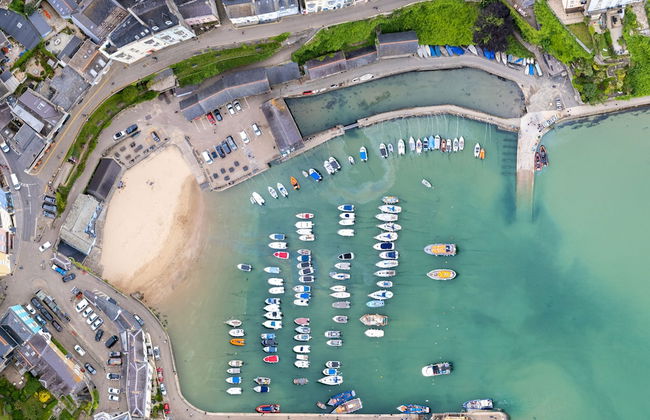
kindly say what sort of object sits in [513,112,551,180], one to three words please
pier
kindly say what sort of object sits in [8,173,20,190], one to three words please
vehicle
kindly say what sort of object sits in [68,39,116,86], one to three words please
house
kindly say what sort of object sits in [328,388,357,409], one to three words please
boat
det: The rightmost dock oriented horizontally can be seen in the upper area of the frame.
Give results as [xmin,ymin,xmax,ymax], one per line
[358,103,519,134]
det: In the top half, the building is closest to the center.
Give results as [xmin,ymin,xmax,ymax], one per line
[262,98,305,155]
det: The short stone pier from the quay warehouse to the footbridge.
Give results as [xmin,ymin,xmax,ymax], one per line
[304,124,343,154]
